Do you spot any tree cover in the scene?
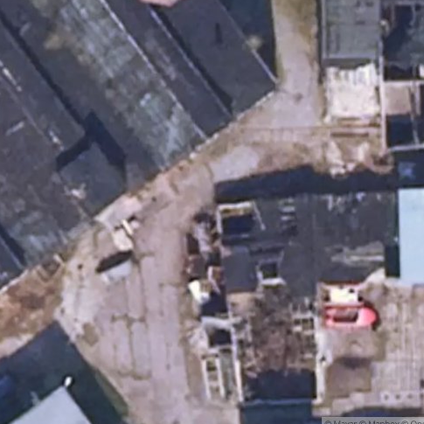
No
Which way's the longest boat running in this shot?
horizontally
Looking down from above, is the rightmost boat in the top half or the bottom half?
bottom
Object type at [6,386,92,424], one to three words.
building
